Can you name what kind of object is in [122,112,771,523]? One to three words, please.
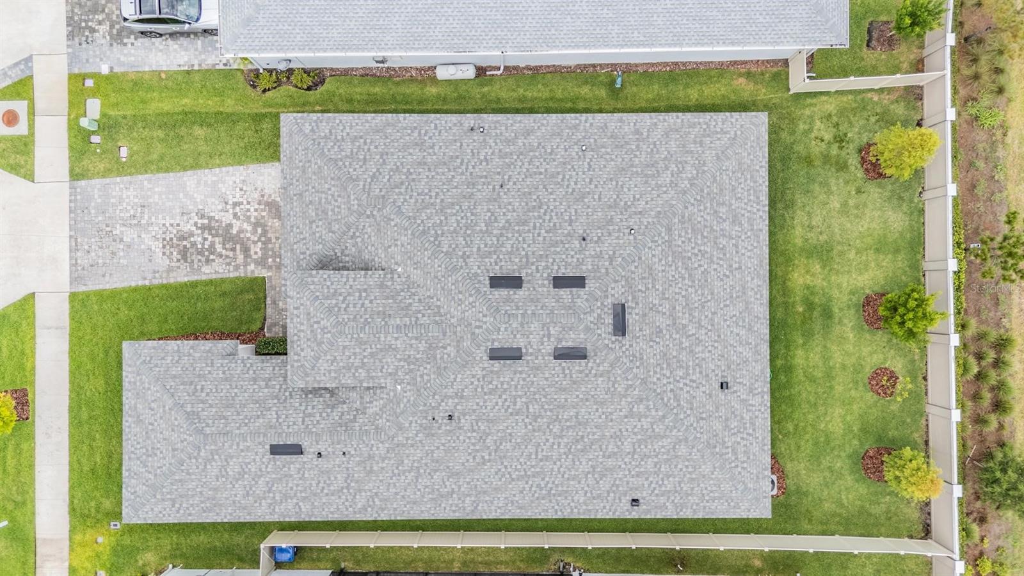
house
